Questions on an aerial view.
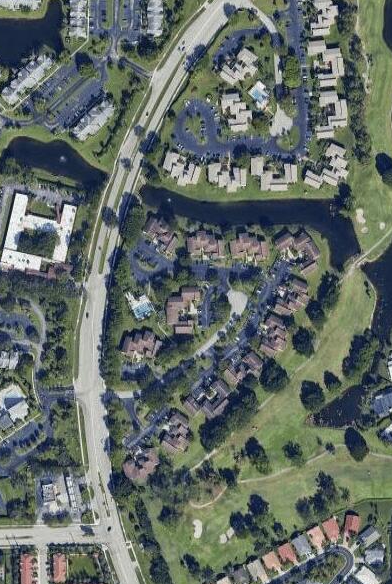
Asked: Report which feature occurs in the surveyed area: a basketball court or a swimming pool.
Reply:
swimming pool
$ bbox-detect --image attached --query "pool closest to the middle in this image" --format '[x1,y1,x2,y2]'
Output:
[126,294,154,320]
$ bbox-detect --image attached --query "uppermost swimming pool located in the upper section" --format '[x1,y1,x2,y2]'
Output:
[249,86,270,106]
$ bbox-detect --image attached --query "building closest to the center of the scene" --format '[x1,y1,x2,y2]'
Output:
[166,284,201,335]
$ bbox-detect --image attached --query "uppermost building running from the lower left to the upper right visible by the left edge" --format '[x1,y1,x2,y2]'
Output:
[0,56,57,103]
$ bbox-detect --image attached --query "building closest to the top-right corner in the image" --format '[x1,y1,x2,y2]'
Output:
[311,0,339,36]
